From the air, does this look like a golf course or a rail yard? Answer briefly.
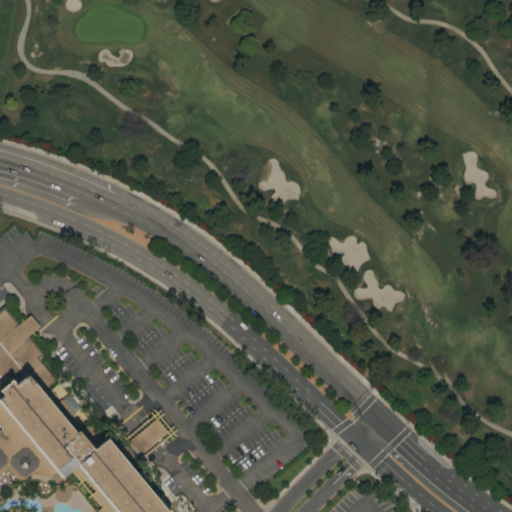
golf course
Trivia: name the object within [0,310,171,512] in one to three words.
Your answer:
building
